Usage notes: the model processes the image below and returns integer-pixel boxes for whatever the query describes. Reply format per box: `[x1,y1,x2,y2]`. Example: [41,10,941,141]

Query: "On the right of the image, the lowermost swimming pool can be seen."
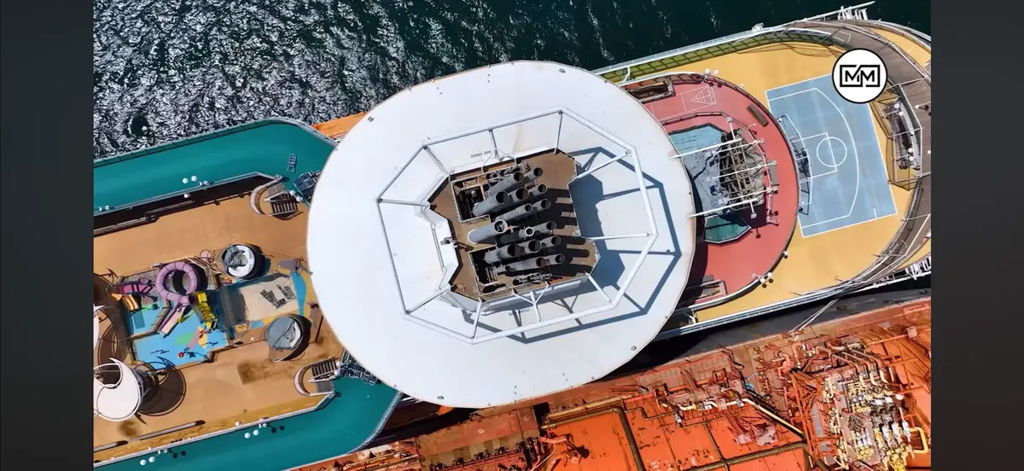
[702,212,757,245]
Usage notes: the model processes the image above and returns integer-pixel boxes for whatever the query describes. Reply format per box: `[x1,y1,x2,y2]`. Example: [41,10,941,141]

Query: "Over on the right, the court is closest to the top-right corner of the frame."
[766,66,896,236]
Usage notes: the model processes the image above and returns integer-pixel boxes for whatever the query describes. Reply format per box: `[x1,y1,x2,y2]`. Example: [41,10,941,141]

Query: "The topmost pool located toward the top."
[666,121,735,221]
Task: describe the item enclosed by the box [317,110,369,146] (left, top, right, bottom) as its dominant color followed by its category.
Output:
orange boat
